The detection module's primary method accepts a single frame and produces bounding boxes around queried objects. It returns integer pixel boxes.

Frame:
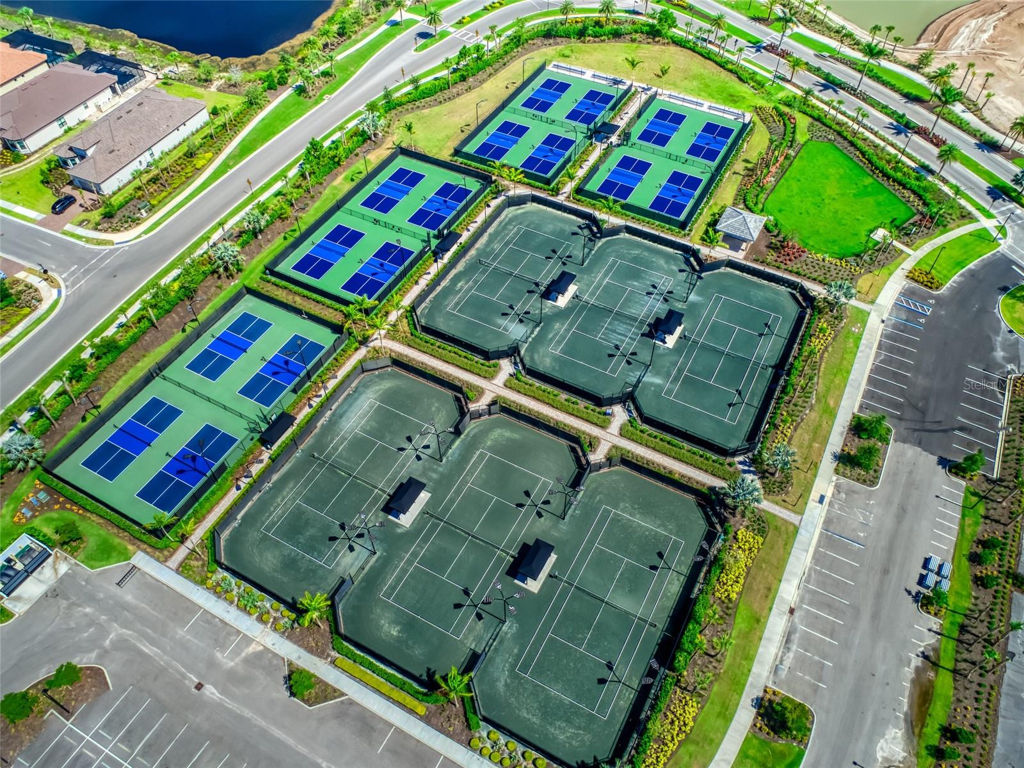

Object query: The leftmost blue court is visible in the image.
[80,395,183,481]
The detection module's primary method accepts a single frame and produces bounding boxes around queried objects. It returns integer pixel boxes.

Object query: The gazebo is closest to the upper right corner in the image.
[713,205,767,254]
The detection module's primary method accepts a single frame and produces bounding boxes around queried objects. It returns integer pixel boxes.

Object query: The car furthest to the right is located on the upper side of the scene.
[51,198,78,216]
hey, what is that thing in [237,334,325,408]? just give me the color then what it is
blue sports court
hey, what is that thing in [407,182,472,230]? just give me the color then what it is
blue sports court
